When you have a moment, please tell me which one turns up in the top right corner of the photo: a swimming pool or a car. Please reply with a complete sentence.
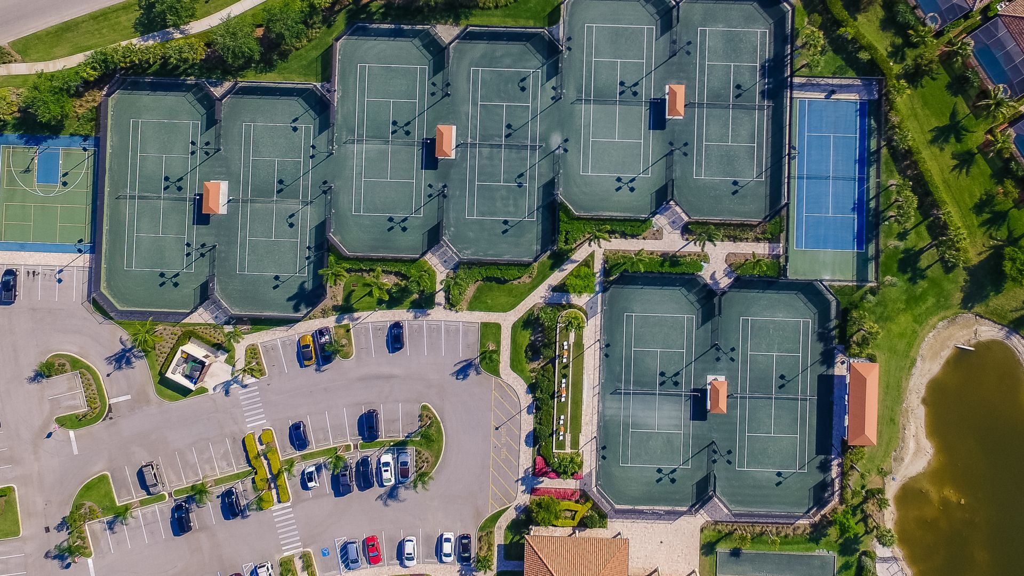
The feature located in the top right corner of the photo is a swimming pool.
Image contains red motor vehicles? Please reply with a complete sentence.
Yes, the picture does show a red motor vehicle.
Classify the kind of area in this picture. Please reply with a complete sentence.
The area seen from above is a sports ground.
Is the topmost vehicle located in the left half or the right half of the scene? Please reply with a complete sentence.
The topmost vehicle is on the left side of the image.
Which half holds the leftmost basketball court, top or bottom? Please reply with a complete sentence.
Seen from above, the leftmost basketball court lies in the top half of the view.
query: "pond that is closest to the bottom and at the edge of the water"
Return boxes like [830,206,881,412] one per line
[893,339,1024,576]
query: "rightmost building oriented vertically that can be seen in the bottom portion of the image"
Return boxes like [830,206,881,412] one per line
[845,359,880,447]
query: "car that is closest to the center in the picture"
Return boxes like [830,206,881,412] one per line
[390,321,404,352]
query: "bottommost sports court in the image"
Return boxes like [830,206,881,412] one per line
[716,550,835,576]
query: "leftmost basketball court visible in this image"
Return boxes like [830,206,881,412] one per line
[0,134,99,253]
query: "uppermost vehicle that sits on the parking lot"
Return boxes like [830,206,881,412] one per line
[0,268,20,304]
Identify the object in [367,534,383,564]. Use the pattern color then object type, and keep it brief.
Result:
red car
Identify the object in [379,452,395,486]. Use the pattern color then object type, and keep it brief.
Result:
white car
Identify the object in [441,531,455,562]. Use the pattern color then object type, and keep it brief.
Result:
white car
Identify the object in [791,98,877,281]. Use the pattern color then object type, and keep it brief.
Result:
blue tennis court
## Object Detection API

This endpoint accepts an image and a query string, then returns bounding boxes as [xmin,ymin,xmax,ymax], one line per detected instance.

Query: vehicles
[337,459,356,495]
[224,488,242,517]
[173,501,194,534]
[255,558,272,576]
[0,268,20,304]
[367,534,383,564]
[379,452,395,486]
[358,456,375,490]
[346,538,362,569]
[397,451,412,482]
[390,321,404,352]
[292,419,310,451]
[441,531,455,562]
[458,533,472,563]
[142,461,163,492]
[403,535,417,566]
[299,334,316,366]
[313,325,333,362]
[364,407,381,441]
[303,464,319,490]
